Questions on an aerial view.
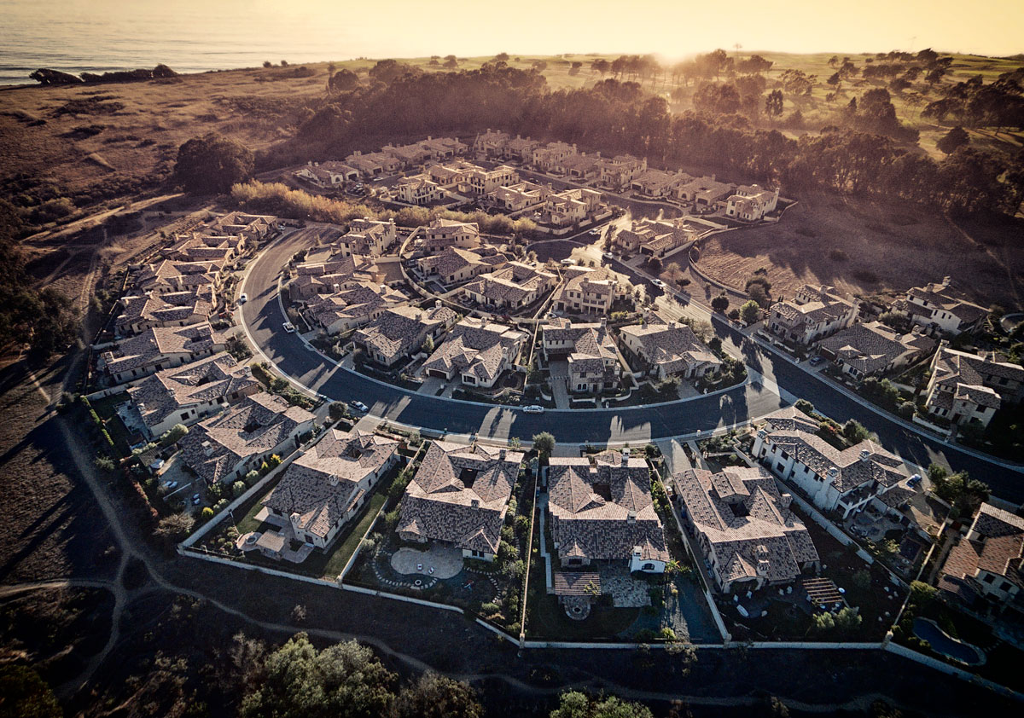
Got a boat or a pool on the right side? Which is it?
pool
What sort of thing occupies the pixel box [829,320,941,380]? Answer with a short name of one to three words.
house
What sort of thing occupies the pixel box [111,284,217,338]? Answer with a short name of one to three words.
house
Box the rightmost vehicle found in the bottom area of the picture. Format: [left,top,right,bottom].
[906,474,925,488]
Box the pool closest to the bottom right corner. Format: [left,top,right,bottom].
[913,614,987,666]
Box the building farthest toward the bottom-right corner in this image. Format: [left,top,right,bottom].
[931,504,1024,621]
